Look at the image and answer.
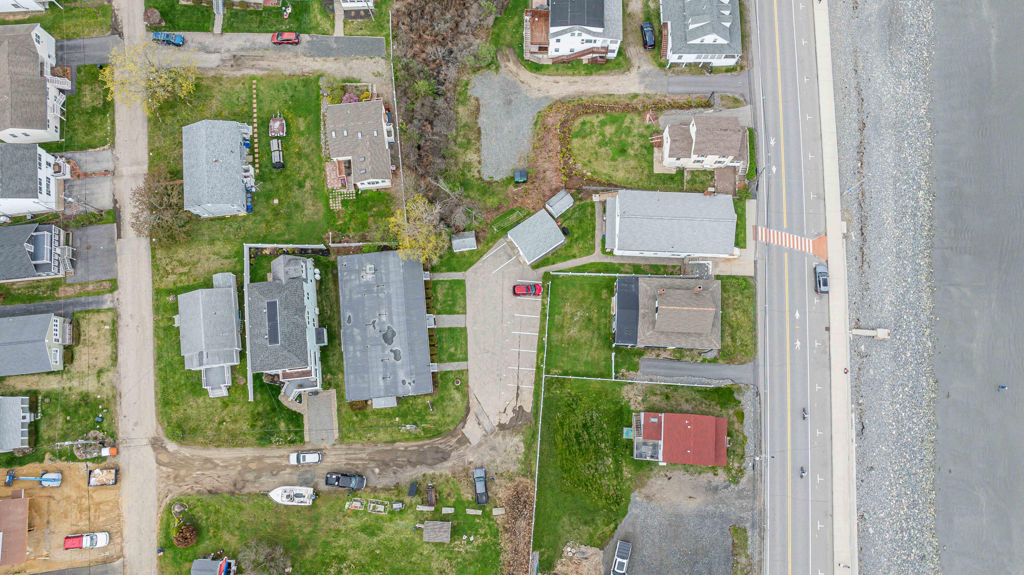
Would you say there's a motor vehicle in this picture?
Yes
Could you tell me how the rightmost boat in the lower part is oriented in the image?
horizontally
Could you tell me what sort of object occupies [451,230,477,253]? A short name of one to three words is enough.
shed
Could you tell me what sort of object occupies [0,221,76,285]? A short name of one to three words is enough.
house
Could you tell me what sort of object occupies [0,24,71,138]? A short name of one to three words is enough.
house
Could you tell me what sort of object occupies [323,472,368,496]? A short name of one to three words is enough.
truck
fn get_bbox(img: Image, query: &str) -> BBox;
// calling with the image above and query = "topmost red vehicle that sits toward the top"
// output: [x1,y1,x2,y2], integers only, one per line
[271,31,302,46]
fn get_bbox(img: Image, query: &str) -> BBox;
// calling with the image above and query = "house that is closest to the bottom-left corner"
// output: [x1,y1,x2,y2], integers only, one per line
[0,487,52,565]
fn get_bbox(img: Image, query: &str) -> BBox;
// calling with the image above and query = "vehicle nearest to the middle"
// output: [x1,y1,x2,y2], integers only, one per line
[512,283,543,297]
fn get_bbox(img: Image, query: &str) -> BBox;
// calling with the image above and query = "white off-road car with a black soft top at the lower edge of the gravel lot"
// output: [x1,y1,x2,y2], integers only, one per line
[609,539,631,575]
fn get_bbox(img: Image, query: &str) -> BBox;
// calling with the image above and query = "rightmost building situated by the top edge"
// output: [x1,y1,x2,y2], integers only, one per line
[659,0,742,64]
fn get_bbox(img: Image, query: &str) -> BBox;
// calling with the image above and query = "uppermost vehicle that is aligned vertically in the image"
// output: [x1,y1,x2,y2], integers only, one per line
[641,22,656,51]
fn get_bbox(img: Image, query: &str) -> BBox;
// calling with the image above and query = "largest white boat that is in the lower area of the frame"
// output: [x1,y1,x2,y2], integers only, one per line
[266,486,318,506]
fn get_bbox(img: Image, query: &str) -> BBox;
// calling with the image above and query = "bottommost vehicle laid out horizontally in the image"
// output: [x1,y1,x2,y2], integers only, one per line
[62,531,112,550]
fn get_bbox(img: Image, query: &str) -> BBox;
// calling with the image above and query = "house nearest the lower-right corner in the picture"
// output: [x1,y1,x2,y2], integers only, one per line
[622,411,732,467]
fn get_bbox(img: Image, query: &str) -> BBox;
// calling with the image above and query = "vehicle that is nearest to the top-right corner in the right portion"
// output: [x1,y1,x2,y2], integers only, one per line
[812,264,830,295]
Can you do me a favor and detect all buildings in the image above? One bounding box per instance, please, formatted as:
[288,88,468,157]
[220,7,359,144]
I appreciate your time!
[0,139,73,209]
[615,277,721,349]
[501,209,565,272]
[0,313,77,376]
[592,186,741,275]
[415,520,451,543]
[622,411,732,467]
[0,487,52,565]
[183,120,258,214]
[0,393,35,453]
[0,221,76,285]
[334,0,373,14]
[0,0,61,11]
[189,551,243,575]
[0,24,71,138]
[330,81,394,191]
[659,0,742,64]
[546,189,574,218]
[169,273,243,397]
[524,0,623,66]
[451,230,477,253]
[248,258,330,399]
[666,116,752,176]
